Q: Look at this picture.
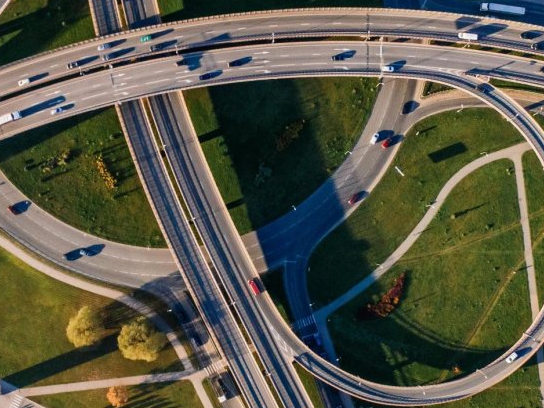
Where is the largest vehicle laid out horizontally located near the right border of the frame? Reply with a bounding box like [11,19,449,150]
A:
[478,2,526,15]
